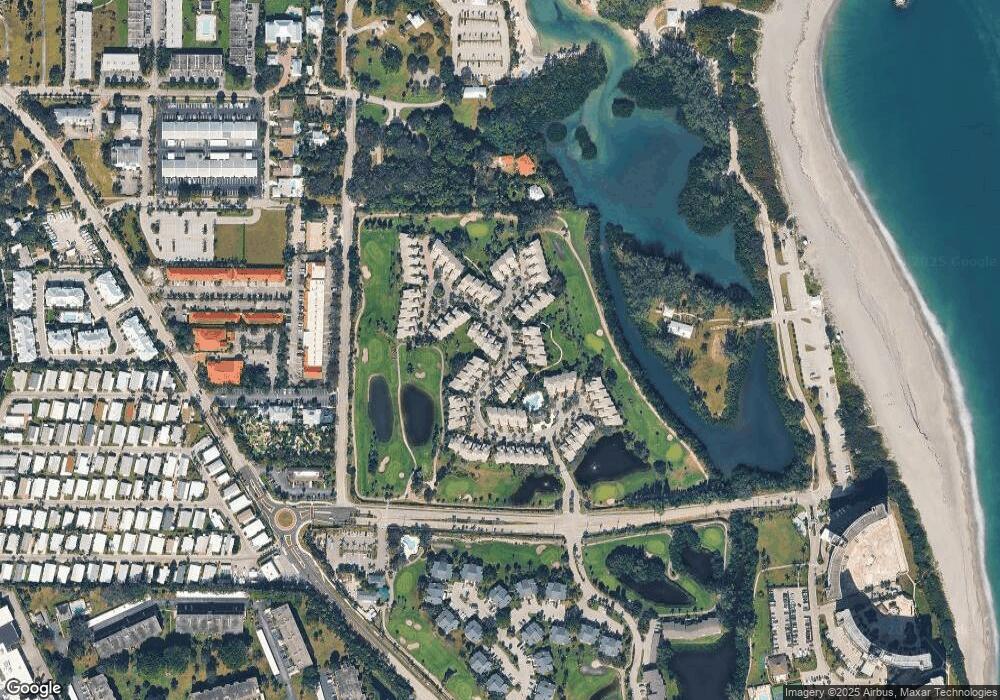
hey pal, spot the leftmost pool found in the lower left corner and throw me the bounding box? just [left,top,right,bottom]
[70,599,86,614]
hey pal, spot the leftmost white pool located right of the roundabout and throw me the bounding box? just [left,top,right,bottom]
[401,535,419,559]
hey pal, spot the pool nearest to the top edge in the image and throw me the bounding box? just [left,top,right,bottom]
[195,15,216,41]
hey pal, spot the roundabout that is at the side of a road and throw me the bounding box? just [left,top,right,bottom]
[238,467,352,582]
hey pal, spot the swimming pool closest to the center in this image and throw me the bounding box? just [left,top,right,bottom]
[523,392,544,412]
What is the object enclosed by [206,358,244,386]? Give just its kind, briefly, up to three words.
building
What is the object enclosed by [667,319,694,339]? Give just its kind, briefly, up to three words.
building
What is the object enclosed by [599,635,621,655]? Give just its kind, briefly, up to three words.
house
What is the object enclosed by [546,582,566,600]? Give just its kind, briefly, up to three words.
house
